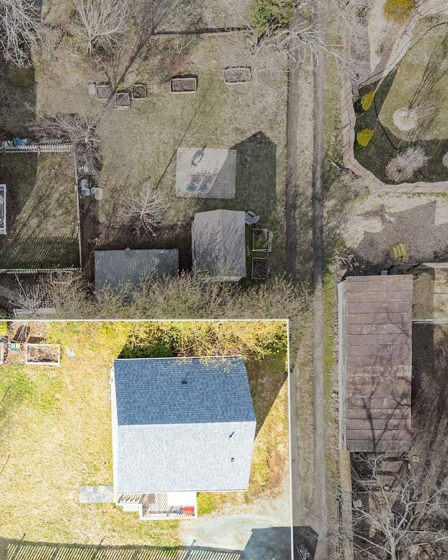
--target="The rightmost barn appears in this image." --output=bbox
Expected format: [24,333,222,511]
[334,275,413,451]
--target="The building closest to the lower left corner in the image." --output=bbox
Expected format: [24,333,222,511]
[109,357,257,494]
